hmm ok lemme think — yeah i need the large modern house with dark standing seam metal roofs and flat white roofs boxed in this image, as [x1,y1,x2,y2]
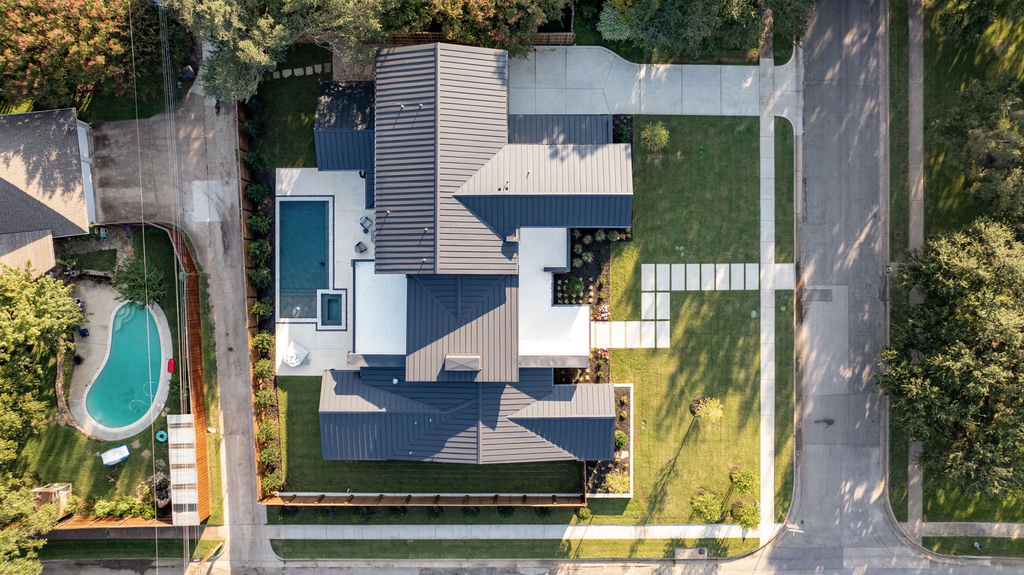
[314,42,633,464]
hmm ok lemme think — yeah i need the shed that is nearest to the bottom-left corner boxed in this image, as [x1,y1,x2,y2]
[32,483,73,519]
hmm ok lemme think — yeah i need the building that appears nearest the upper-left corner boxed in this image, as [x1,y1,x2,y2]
[0,107,99,249]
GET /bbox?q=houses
[0,107,99,249]
[314,42,633,464]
